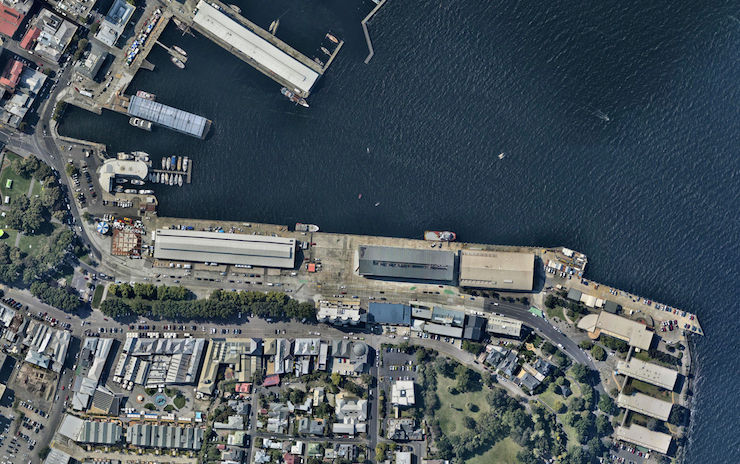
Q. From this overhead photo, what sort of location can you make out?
port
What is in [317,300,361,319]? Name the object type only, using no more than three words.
building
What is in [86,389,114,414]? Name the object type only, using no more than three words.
building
